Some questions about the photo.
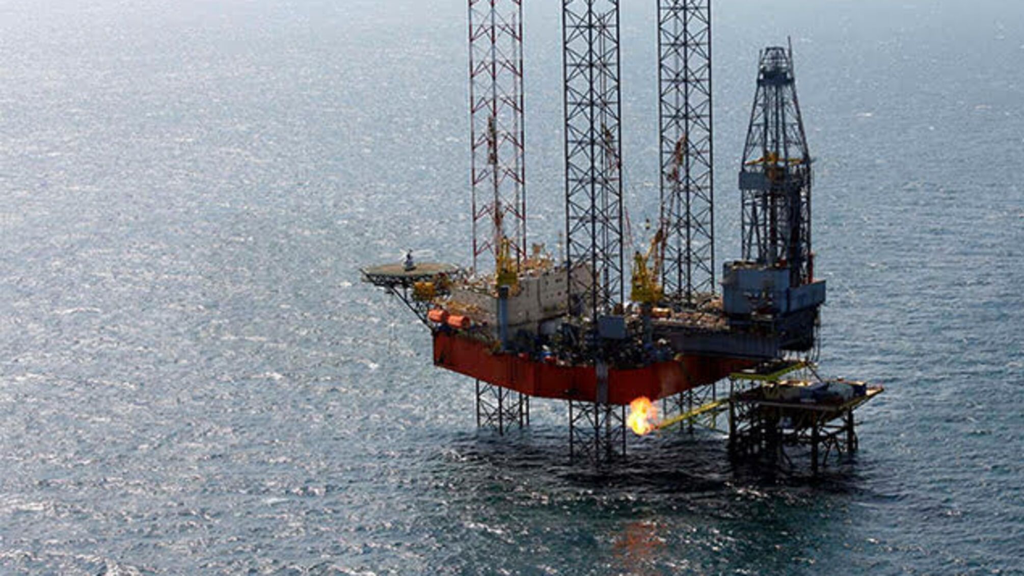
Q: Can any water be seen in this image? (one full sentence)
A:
Yes, water shows up in the scene.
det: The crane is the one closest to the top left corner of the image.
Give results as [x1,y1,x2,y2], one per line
[488,113,515,345]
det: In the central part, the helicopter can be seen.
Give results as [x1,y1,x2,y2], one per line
[387,246,433,270]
